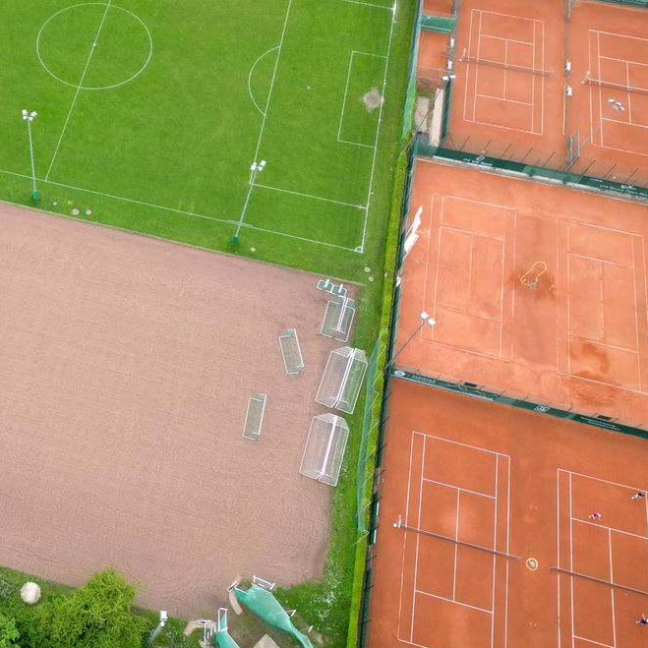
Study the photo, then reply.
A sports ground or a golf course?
sports ground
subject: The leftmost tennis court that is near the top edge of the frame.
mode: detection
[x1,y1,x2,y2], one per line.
[412,0,459,106]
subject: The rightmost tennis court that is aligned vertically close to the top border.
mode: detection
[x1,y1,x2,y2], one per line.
[565,0,648,188]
